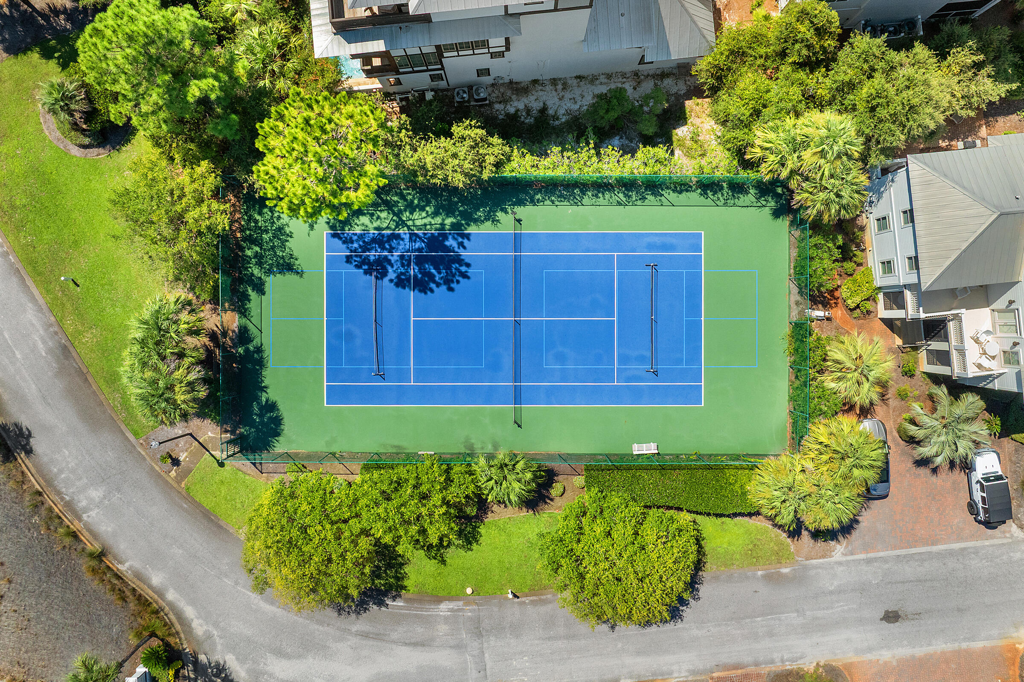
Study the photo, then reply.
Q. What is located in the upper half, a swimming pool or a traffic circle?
swimming pool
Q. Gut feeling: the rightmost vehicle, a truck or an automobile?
automobile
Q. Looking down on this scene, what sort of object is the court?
tennis court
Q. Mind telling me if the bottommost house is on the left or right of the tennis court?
right of it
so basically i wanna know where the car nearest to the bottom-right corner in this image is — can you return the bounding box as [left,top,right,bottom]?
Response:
[965,450,1017,528]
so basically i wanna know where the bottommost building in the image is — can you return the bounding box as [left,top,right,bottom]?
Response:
[848,132,1024,383]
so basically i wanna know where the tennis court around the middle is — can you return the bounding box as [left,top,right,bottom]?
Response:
[239,186,788,452]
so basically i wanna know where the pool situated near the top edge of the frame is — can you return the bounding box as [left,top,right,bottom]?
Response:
[301,9,380,98]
